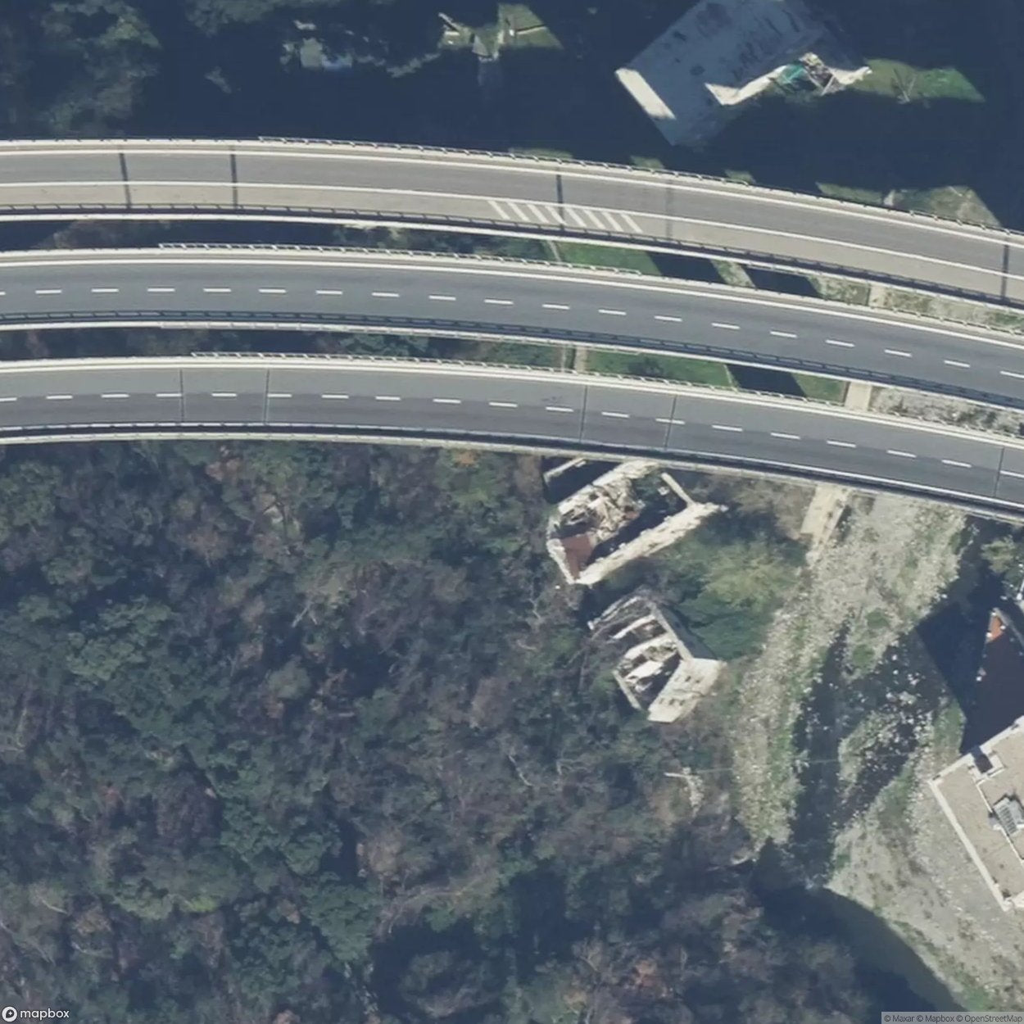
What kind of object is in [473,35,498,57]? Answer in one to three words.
shed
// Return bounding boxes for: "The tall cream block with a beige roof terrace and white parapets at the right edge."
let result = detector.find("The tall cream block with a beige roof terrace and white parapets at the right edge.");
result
[930,716,1024,913]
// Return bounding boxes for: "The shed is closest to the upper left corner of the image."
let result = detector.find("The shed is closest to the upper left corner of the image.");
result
[301,39,344,71]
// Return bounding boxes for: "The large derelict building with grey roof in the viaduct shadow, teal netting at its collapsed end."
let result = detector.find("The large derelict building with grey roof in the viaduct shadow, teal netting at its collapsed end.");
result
[616,0,880,150]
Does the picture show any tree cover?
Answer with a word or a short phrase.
Yes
